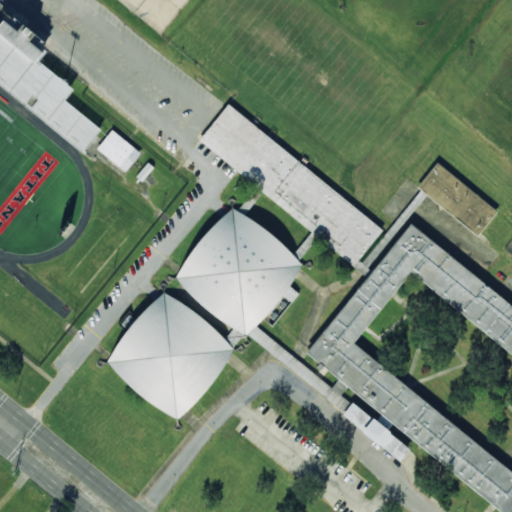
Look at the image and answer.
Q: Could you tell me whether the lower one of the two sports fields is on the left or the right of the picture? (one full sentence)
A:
You can find the lower one of the two sports fields on the left side of the picture.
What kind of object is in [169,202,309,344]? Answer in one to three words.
building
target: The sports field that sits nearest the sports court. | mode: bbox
[192,0,403,155]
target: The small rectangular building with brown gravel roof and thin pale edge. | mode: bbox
[419,163,498,236]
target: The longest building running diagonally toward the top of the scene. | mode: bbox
[200,105,382,266]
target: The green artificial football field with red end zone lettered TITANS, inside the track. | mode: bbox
[0,100,84,254]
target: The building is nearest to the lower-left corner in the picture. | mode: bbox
[100,286,242,426]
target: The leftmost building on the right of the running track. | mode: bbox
[98,130,140,172]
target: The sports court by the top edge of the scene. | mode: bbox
[116,0,189,34]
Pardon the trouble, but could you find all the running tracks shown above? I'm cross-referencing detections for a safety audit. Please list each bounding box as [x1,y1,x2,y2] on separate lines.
[0,86,94,264]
